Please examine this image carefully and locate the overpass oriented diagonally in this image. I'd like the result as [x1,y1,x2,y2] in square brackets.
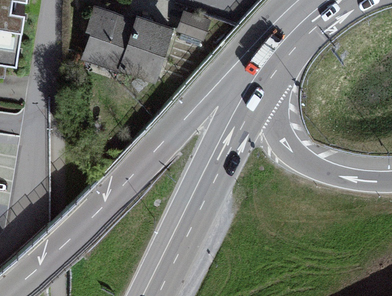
[0,0,284,296]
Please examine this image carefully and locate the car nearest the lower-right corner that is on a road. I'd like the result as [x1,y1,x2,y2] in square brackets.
[225,152,240,174]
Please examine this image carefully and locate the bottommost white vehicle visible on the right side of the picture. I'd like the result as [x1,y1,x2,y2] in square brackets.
[246,86,264,108]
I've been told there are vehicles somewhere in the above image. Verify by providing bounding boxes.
[242,30,282,74]
[246,86,264,108]
[356,0,378,10]
[225,152,240,174]
[0,182,7,191]
[210,30,225,46]
[320,2,342,20]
